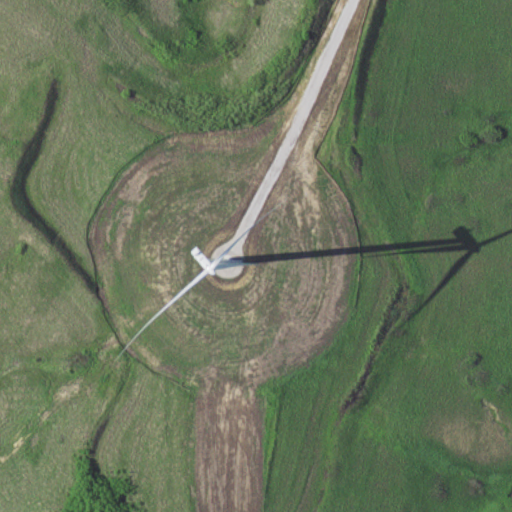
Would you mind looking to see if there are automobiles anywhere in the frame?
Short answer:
No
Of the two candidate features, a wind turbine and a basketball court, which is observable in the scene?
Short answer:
wind turbine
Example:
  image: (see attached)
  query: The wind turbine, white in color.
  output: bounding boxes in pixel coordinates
[114,205,278,366]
